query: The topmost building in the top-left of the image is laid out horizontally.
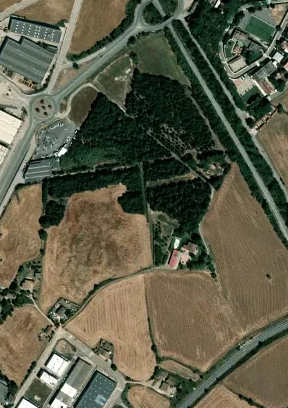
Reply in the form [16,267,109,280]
[11,18,62,43]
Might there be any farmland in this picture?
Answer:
Yes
